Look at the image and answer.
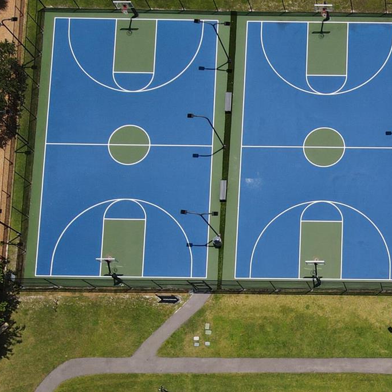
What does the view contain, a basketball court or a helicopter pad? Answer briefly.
basketball court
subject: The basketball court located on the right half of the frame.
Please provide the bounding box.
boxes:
[222,13,392,291]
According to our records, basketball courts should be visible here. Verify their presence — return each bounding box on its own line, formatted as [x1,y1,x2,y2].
[222,13,392,291]
[23,10,230,287]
